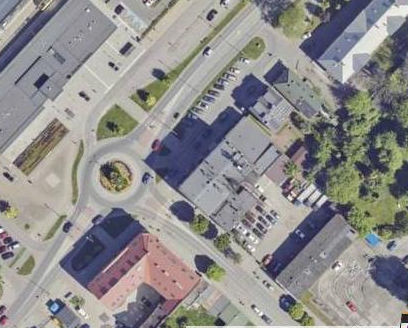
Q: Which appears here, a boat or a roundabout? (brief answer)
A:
roundabout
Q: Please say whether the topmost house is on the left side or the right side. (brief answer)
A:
right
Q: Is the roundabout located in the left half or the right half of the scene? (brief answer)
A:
left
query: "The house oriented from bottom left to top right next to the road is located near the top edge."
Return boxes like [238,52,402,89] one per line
[318,0,408,82]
